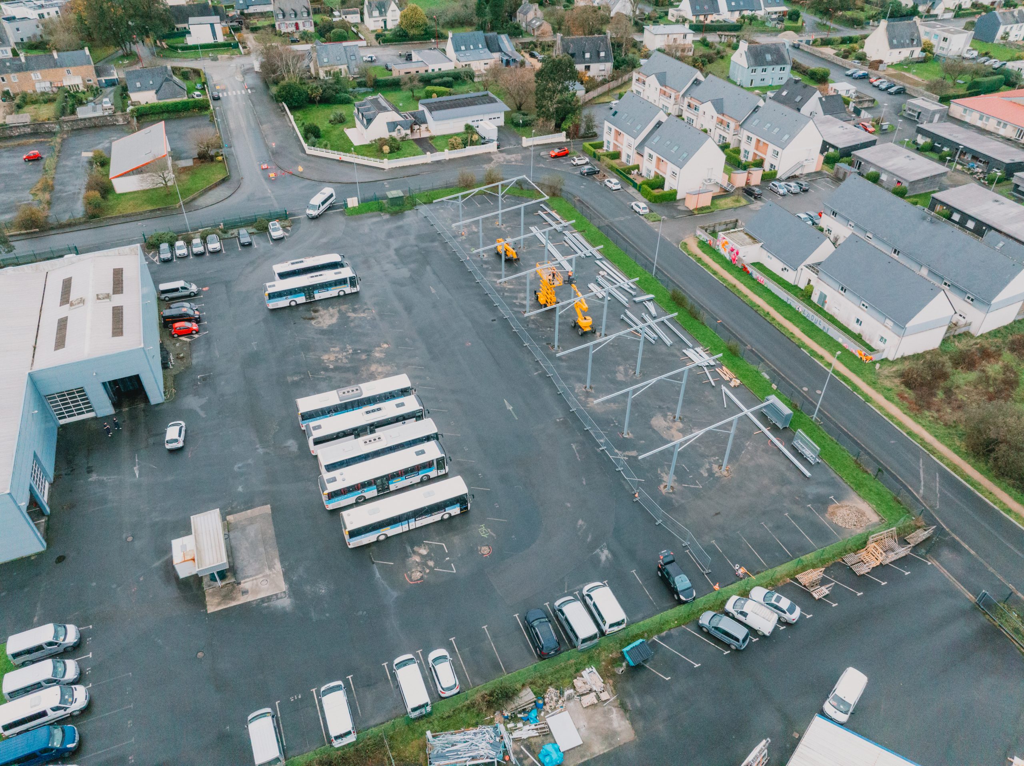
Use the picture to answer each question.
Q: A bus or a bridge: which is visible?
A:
bus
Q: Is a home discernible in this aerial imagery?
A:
Yes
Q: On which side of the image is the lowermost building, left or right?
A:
right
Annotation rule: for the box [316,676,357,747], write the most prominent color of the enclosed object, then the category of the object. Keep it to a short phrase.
white van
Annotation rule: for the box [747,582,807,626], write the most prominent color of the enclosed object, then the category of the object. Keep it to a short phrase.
white car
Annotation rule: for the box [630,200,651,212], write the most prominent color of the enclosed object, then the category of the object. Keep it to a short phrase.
white vehicle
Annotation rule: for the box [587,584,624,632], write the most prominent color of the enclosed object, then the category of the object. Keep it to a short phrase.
white van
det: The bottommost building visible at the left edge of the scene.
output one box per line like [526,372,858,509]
[0,234,164,560]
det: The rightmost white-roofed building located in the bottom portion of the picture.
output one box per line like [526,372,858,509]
[797,712,924,766]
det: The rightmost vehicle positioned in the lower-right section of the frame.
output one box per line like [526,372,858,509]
[830,659,872,718]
